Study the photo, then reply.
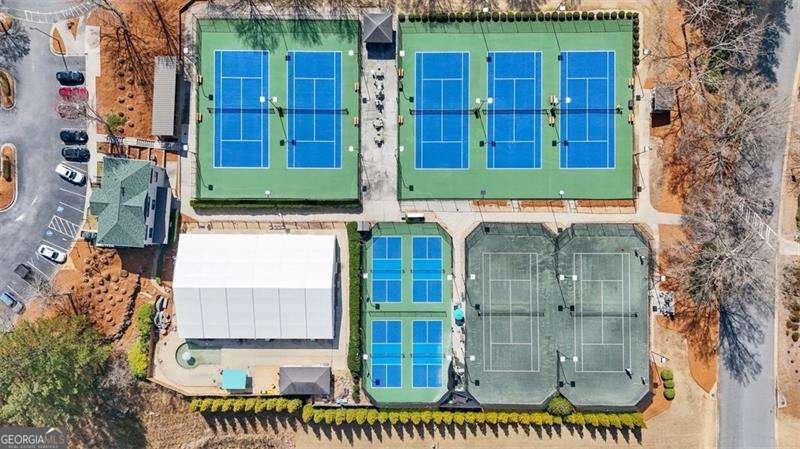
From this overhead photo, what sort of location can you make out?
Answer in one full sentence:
It's a sports ground.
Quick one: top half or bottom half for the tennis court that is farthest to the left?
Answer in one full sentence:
Seen from above, the tennis court that is farthest to the left lies in the top half of the view.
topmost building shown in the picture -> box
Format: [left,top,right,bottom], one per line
[363,12,392,45]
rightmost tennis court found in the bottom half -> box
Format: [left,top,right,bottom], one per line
[556,224,651,404]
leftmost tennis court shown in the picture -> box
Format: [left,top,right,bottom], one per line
[197,20,278,199]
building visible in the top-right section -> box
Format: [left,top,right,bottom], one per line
[646,88,673,112]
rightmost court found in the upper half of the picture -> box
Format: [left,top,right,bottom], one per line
[552,20,634,199]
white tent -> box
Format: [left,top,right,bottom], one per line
[172,233,338,340]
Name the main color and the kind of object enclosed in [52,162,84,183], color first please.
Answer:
white truck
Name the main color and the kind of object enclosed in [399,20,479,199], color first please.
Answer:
green tennis court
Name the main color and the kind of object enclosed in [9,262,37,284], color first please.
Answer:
gray truck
